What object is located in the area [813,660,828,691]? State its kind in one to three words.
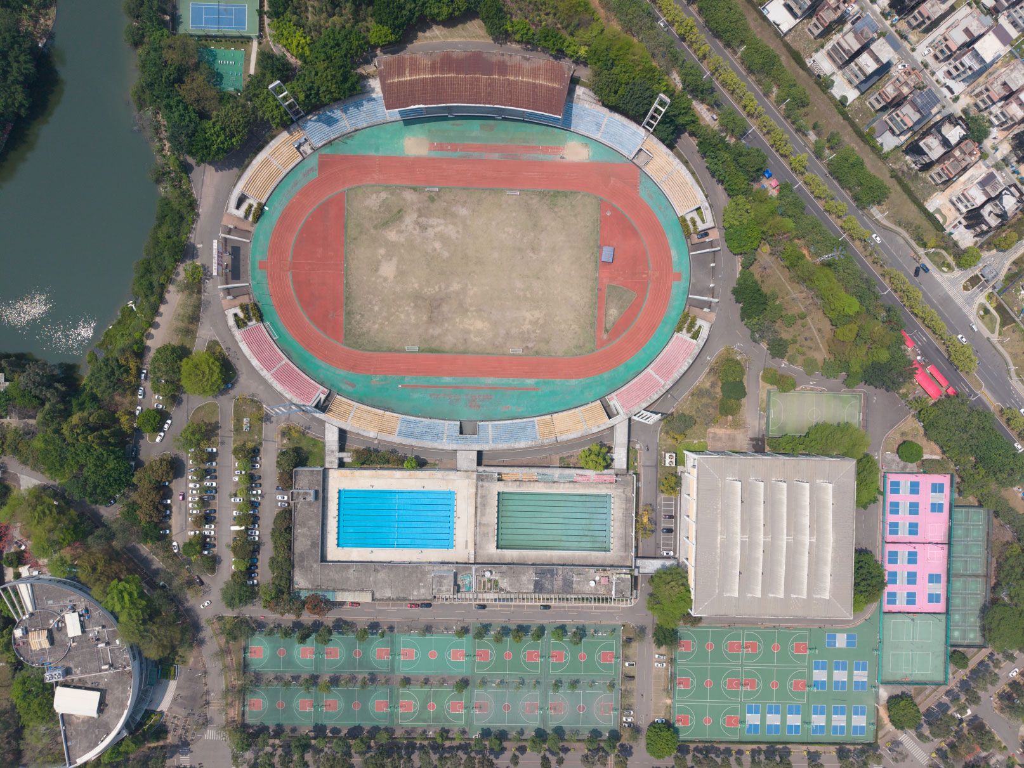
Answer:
sports court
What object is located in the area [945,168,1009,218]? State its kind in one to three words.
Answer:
house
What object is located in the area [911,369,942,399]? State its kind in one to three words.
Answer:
tent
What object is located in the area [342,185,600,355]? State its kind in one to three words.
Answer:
soccer field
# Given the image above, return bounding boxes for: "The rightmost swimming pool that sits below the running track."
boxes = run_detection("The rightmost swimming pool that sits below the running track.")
[495,491,615,552]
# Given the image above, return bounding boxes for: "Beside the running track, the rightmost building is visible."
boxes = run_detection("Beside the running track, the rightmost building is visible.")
[674,449,857,620]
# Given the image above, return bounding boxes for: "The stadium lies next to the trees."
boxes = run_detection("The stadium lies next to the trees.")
[218,50,723,451]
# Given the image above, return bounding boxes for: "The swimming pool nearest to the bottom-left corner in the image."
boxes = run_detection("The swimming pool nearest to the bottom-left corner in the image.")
[335,489,459,550]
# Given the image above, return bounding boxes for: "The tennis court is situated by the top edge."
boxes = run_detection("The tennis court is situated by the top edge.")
[176,0,260,35]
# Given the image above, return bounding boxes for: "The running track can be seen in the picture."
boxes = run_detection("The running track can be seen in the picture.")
[252,118,689,421]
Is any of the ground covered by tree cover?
Yes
